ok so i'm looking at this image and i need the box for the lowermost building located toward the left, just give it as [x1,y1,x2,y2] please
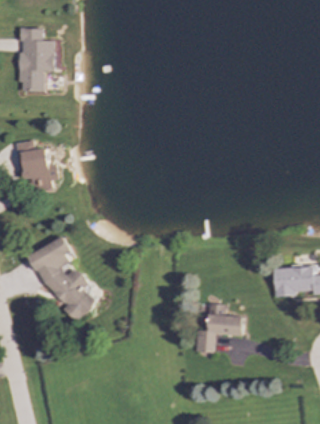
[30,237,100,320]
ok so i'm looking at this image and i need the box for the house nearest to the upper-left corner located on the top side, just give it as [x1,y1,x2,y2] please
[14,28,62,94]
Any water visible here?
Yes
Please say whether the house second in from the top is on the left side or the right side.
left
